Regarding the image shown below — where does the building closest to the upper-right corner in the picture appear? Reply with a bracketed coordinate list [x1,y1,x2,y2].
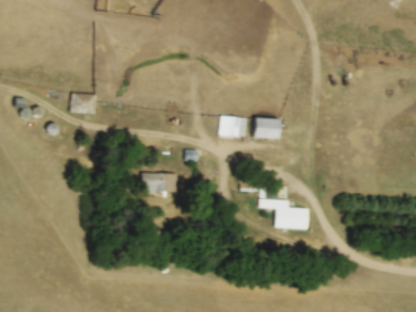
[253,118,283,140]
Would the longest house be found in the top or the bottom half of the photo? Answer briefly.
bottom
